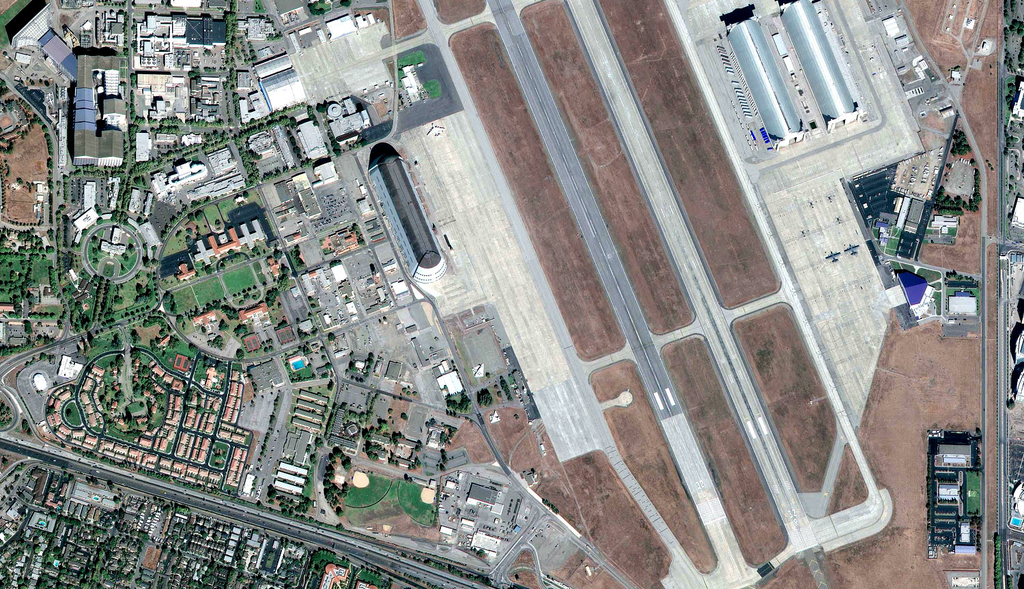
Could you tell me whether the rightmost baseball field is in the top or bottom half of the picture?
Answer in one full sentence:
It is in the bottom half that the rightmost baseball field appears.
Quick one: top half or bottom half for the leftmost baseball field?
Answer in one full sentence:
You can find the leftmost baseball field in the bottom half.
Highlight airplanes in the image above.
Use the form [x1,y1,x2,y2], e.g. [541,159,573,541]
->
[843,244,860,255]
[824,251,841,262]
[428,124,445,138]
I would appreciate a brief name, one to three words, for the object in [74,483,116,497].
building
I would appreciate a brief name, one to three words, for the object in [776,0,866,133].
hangar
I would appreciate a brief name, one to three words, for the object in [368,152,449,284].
hangar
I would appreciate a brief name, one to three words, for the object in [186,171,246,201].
building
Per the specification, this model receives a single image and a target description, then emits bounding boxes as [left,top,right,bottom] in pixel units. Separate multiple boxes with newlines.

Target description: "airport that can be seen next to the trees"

[257,0,925,589]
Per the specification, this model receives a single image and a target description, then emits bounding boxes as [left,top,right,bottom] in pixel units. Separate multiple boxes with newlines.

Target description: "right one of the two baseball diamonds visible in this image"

[398,482,438,525]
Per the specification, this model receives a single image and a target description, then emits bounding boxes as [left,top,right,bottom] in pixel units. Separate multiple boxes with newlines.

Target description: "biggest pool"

[289,356,309,371]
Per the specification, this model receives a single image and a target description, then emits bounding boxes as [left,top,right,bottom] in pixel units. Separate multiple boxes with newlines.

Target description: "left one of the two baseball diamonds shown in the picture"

[345,472,391,509]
